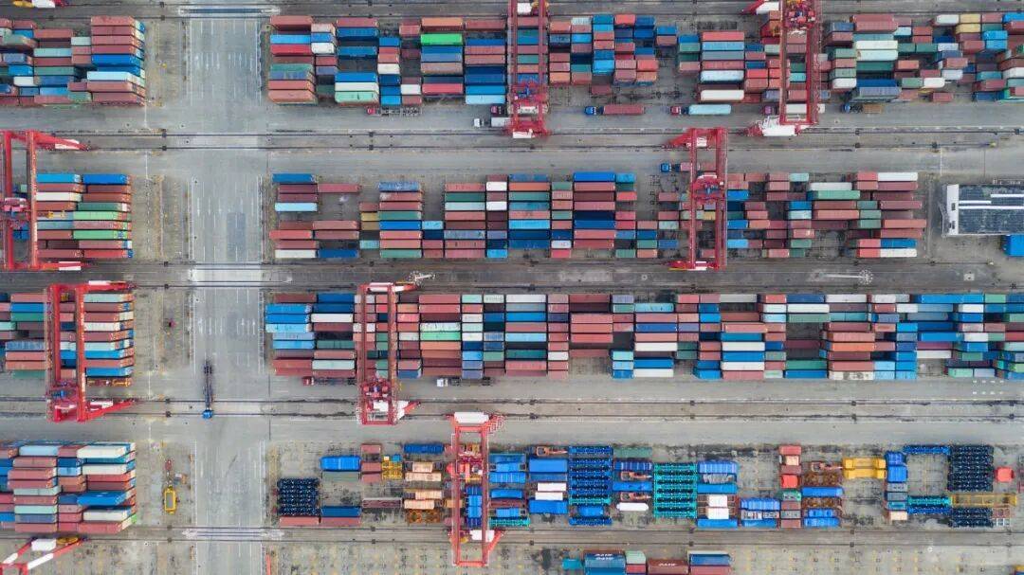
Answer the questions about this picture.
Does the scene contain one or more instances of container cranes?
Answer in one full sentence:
Yes, this view includes a container crane.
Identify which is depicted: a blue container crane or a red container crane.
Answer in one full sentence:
Looking from above, you can make out a red container crane.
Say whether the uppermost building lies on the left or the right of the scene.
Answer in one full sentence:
It is on the right.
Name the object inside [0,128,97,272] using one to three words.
container crane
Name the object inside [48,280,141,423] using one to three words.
container crane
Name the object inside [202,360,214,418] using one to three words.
vehicle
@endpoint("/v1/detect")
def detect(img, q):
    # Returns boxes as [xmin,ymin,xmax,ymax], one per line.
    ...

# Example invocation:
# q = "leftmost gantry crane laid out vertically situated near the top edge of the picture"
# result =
[494,0,560,139]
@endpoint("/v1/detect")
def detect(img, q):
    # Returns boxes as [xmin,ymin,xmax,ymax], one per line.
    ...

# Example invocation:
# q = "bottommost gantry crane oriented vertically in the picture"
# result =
[442,413,508,569]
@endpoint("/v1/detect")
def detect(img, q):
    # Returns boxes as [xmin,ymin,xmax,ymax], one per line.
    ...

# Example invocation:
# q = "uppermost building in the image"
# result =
[932,184,1024,236]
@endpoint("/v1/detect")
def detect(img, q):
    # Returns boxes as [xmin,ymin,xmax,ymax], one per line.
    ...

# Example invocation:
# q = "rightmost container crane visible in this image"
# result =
[740,0,818,139]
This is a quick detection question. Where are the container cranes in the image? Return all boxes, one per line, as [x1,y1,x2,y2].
[48,280,141,423]
[494,0,560,139]
[0,537,91,575]
[740,0,818,139]
[656,128,726,272]
[0,128,97,272]
[442,413,508,569]
[356,280,422,424]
